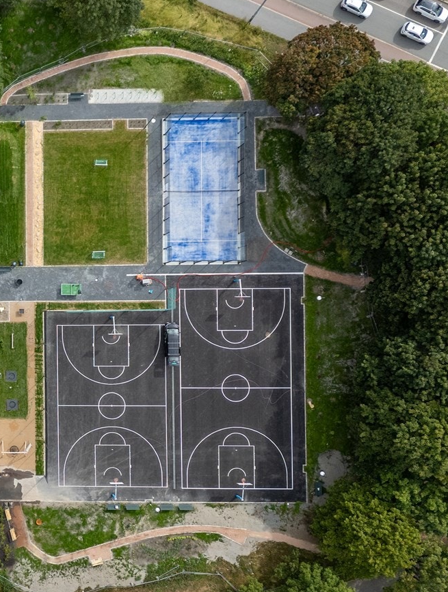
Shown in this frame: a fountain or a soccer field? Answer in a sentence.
It is a soccer field that can be seen here.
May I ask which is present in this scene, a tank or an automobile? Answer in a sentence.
The image shows an automobile.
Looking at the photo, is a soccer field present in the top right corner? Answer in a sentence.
No, looking in the top right corner, there is no soccer field.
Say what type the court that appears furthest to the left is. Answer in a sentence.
It looks like the court that appears furthest to the left is a basketball court.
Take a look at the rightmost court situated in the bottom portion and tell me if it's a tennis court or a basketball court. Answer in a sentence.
What you see as the rightmost court situated in the bottom portion is a basketball court.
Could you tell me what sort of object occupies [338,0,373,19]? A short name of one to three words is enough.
car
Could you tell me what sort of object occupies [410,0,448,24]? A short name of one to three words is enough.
car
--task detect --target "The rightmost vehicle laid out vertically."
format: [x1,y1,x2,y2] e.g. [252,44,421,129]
[165,322,182,367]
